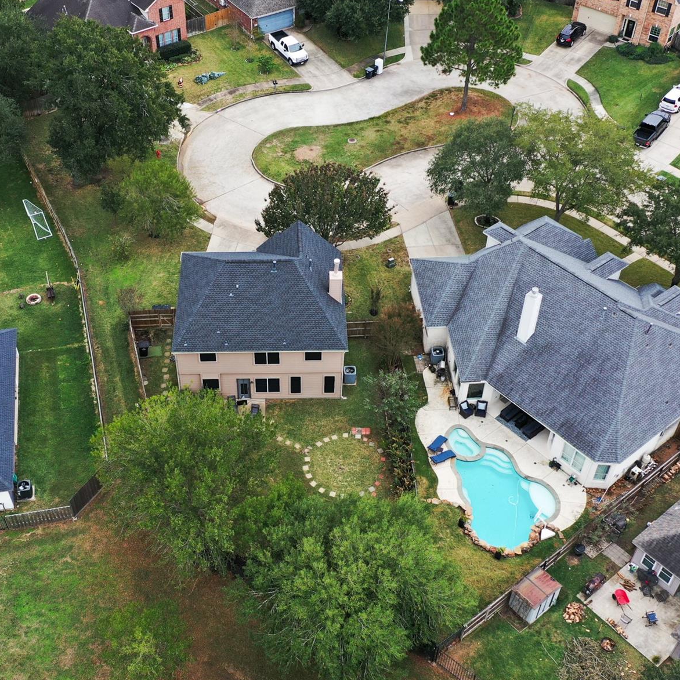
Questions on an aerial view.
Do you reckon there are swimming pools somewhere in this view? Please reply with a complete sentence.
Yes, the photo shows a swimming pool.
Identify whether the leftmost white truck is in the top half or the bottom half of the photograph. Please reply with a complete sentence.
The leftmost white truck is in the top half of the image.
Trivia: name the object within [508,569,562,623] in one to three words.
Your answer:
shed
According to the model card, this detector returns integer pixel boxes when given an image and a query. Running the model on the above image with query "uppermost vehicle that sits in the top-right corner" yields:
[554,17,593,45]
